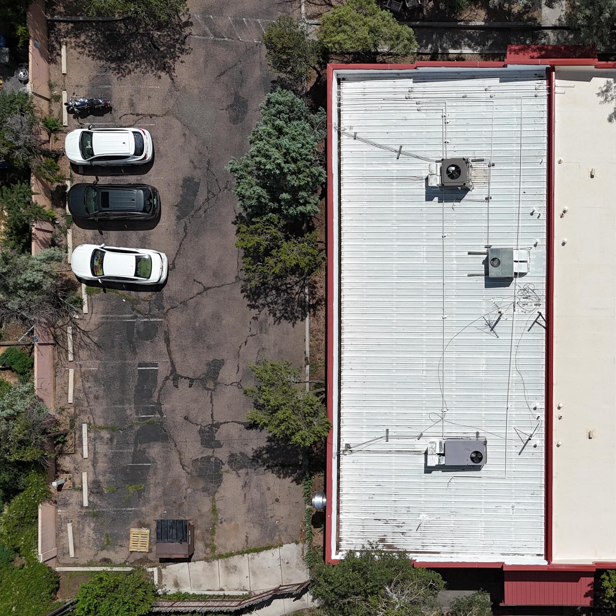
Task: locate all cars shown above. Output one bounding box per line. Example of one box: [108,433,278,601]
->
[66,124,155,168]
[72,241,168,286]
[67,179,161,225]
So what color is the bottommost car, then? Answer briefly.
white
